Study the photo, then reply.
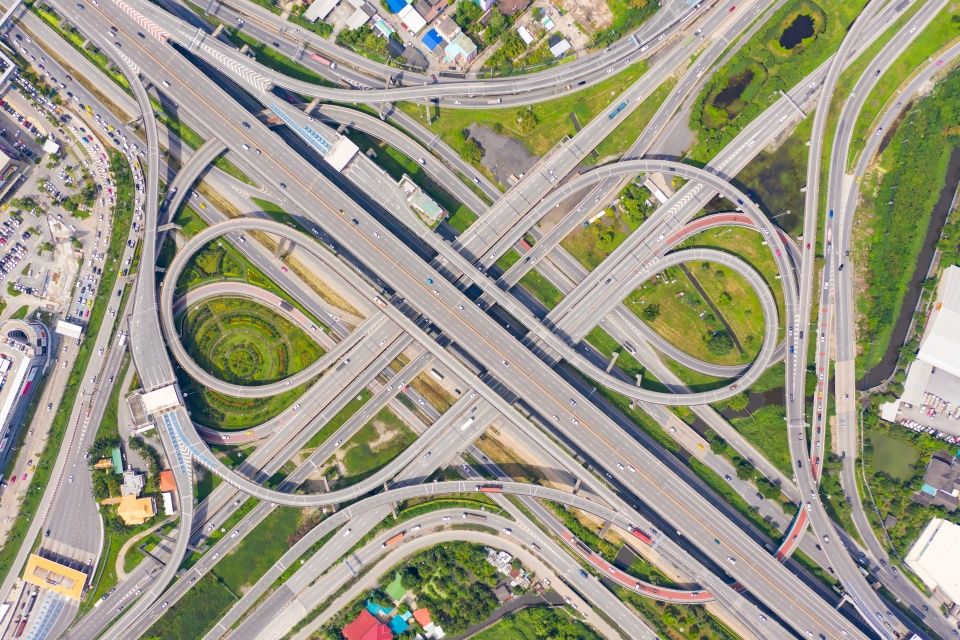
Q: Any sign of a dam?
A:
No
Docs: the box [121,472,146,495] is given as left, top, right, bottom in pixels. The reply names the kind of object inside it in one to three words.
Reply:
house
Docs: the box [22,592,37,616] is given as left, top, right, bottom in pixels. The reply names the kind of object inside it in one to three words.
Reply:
vehicle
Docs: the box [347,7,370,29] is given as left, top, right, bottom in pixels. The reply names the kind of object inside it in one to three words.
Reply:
shed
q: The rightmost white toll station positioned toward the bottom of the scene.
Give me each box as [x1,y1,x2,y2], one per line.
[141,379,184,418]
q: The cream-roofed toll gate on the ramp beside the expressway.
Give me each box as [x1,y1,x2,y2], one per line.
[323,132,366,176]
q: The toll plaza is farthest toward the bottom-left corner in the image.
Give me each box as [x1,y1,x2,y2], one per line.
[23,544,95,603]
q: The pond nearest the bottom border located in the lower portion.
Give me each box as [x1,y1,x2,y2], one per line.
[869,435,919,479]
